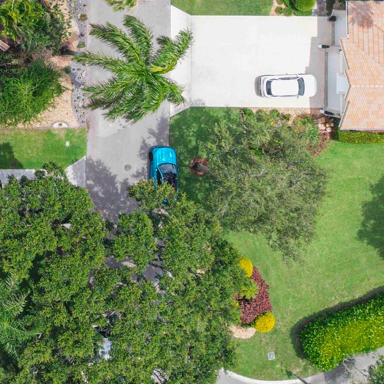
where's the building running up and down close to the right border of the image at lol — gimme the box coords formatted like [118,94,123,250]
[323,0,384,130]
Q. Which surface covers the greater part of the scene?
trees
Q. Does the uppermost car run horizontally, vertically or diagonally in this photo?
horizontally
